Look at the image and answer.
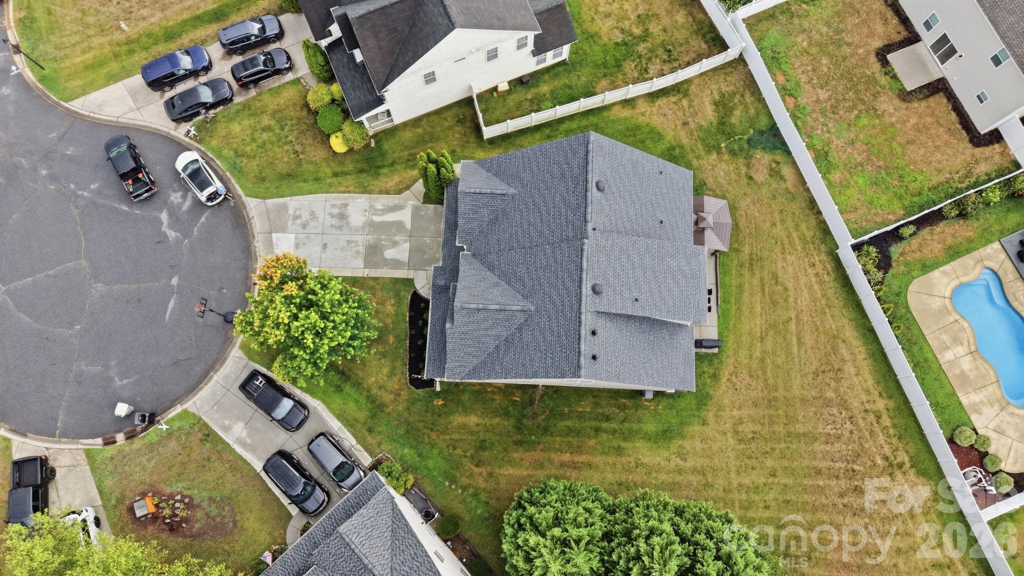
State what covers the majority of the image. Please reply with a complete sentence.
The largest share of the image is taken up by grass.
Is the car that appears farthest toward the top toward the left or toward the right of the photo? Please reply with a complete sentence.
The car that appears farthest toward the top sits on the left side.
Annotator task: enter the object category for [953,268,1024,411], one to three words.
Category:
swimming pool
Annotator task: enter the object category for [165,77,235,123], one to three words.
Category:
car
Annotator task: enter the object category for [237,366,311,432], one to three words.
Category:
truck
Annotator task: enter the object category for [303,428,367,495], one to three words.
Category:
car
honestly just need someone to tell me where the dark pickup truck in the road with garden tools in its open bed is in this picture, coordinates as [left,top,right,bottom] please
[105,132,160,205]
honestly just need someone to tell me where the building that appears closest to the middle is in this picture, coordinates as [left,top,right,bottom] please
[424,133,710,392]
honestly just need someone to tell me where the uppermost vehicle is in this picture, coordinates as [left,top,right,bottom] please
[218,13,283,56]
